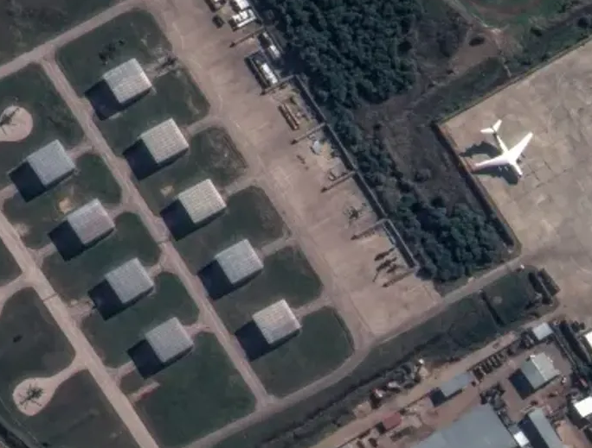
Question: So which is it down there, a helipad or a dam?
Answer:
helipad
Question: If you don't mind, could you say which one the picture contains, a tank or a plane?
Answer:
plane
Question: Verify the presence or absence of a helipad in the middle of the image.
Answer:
No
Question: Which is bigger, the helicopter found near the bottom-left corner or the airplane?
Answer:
the airplane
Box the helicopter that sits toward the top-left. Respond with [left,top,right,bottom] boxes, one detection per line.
[0,104,20,130]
